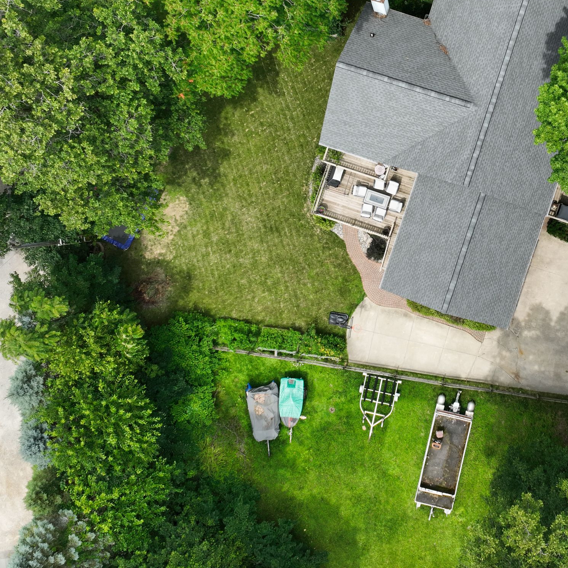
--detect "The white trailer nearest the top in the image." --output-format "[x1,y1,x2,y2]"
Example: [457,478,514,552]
[358,374,401,441]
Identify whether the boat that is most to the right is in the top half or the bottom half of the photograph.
bottom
